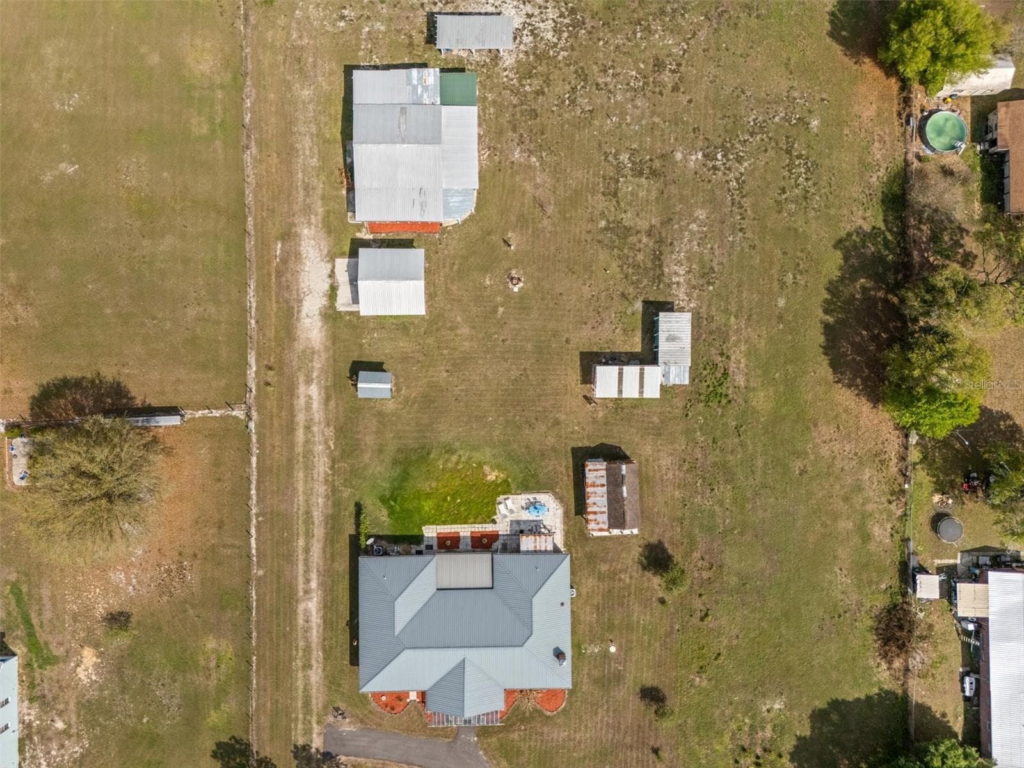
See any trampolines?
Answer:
Yes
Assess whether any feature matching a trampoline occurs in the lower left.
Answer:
No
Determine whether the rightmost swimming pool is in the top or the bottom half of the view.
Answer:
top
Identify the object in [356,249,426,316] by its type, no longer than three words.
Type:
building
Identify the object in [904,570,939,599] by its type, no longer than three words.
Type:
shed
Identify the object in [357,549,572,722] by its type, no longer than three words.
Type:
house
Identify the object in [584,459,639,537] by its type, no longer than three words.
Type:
shed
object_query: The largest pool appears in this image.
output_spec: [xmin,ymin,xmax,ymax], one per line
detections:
[918,111,968,157]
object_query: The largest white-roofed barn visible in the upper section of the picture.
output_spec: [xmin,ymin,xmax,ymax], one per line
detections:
[352,68,478,226]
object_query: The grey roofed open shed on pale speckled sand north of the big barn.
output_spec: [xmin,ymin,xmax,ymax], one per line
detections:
[434,15,513,62]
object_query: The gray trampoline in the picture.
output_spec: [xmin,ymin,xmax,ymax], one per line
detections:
[930,516,962,543]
